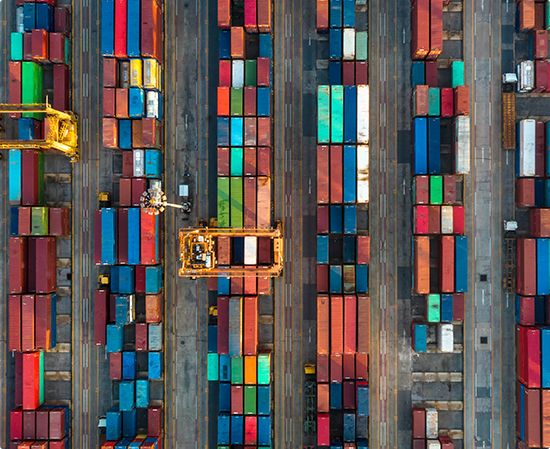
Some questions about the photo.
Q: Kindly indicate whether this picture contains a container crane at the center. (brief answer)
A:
Yes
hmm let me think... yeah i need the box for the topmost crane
[0,91,78,166]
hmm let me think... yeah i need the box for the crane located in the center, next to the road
[178,220,284,279]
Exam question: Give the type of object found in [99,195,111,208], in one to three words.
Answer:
vehicle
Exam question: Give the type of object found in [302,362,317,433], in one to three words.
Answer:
vehicle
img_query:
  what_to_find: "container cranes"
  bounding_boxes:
[0,91,78,166]
[178,220,284,279]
